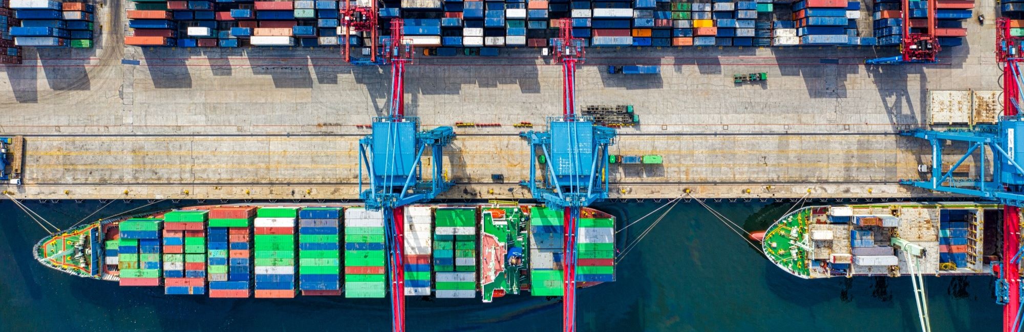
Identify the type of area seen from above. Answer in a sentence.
What you see here is a port.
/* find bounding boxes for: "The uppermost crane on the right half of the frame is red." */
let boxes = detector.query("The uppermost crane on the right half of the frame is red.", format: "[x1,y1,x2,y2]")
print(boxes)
[864,0,937,65]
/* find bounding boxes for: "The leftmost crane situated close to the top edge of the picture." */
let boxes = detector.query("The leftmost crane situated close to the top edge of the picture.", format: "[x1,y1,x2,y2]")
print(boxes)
[342,0,391,65]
